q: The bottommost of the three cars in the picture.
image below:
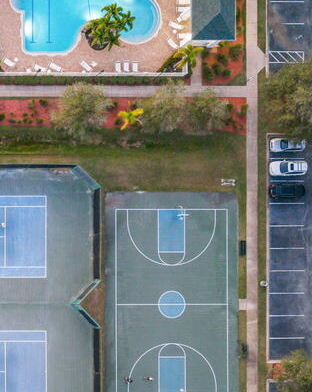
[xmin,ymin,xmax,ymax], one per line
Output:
[269,182,305,199]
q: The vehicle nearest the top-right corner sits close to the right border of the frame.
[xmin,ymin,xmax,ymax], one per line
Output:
[269,137,305,153]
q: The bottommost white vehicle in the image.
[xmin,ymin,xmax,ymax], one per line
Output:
[268,159,307,176]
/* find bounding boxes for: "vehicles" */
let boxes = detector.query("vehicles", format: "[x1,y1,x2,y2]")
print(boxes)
[268,159,307,176]
[269,182,305,199]
[269,137,305,153]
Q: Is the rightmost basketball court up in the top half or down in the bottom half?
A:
bottom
